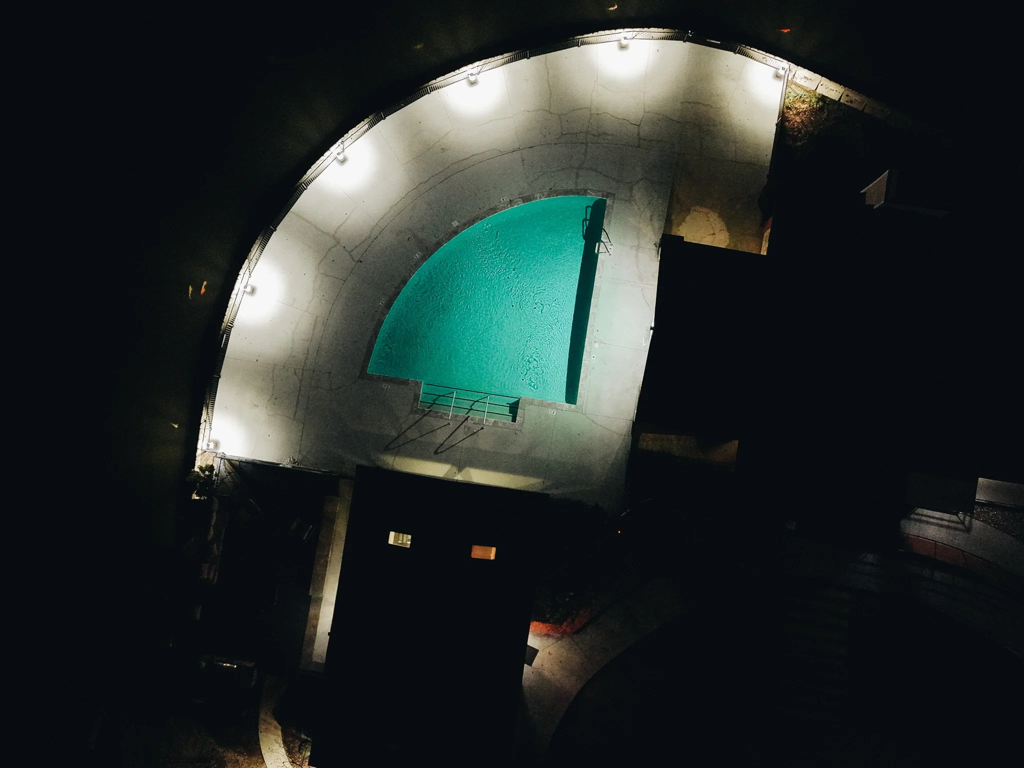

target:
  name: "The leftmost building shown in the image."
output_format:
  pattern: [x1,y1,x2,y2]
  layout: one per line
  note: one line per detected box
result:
[309,465,550,768]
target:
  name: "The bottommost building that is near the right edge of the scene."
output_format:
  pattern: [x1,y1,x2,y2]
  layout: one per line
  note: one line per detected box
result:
[633,234,1024,521]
